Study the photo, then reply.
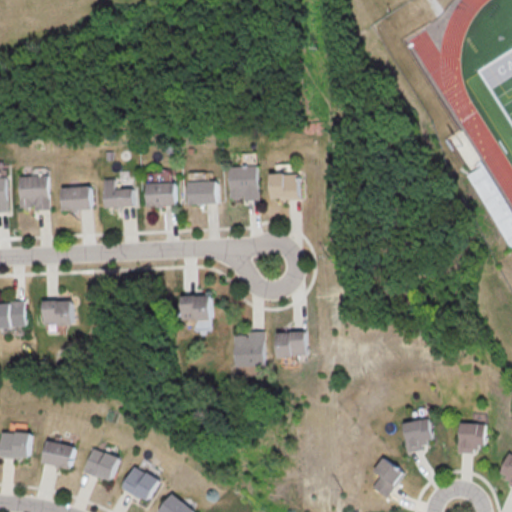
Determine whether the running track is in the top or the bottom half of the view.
top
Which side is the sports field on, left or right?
right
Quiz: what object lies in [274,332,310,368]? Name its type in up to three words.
house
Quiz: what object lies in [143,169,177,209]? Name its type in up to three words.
house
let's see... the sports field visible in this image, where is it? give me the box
[461,0,512,164]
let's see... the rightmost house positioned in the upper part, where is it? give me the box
[268,165,301,200]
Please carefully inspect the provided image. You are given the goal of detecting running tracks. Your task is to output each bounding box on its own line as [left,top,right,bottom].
[404,0,512,210]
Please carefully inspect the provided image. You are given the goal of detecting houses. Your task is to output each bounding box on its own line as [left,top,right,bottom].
[498,452,512,486]
[123,462,168,501]
[0,302,30,334]
[41,436,80,470]
[16,169,54,210]
[58,185,92,212]
[274,332,310,368]
[143,169,177,209]
[403,419,434,454]
[102,171,141,208]
[268,165,301,200]
[226,154,262,200]
[84,448,126,481]
[458,412,494,454]
[370,456,404,497]
[178,296,212,327]
[39,301,74,336]
[232,330,268,367]
[0,424,34,460]
[157,492,204,512]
